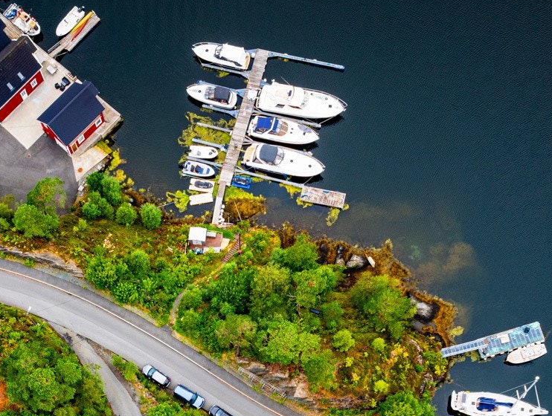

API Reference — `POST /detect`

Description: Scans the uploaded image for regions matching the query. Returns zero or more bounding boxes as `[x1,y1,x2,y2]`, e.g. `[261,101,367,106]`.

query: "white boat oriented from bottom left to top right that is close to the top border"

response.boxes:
[56,1,86,37]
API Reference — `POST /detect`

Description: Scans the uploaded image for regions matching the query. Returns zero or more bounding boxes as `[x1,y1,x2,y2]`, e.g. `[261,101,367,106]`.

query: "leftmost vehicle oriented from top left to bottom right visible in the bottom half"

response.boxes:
[142,364,171,387]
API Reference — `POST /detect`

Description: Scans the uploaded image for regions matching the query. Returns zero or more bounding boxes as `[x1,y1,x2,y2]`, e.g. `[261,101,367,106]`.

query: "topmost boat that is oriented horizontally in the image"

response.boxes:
[192,40,252,71]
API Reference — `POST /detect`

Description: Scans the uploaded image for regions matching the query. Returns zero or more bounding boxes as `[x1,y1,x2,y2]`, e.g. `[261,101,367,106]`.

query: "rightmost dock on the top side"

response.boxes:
[186,48,342,224]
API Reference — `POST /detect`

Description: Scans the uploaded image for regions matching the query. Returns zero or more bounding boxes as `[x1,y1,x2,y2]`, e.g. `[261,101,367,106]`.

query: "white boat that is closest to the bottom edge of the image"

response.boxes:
[449,383,552,416]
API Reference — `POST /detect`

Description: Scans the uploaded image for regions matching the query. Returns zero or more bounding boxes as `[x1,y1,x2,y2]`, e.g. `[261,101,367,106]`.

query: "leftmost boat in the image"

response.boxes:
[5,3,35,36]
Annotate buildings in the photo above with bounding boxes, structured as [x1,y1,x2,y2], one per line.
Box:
[188,227,230,253]
[0,36,44,119]
[37,81,105,151]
